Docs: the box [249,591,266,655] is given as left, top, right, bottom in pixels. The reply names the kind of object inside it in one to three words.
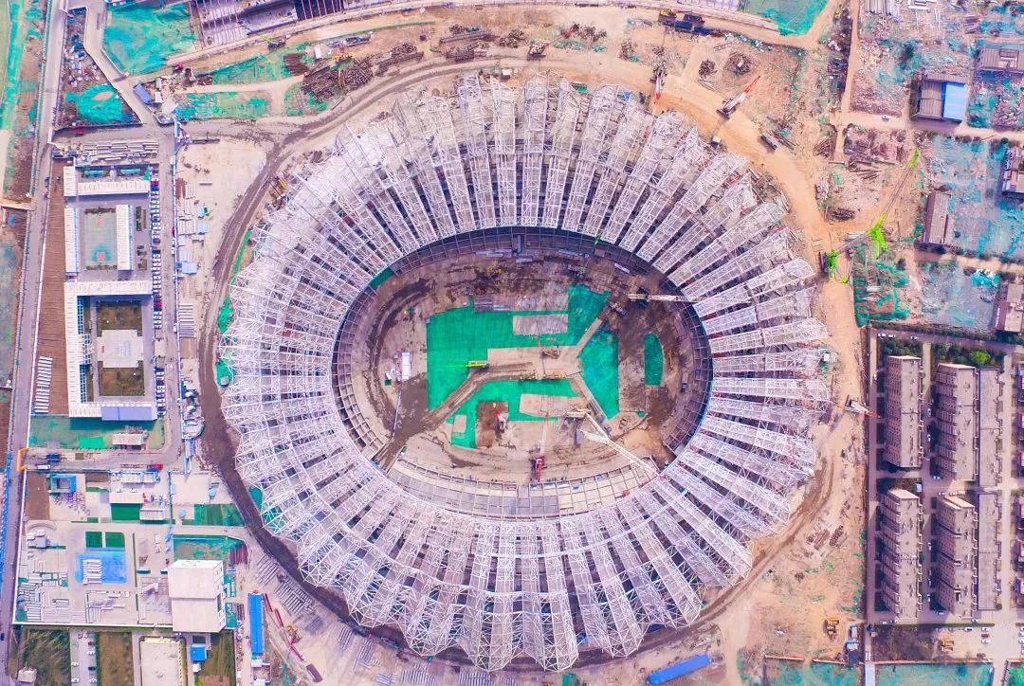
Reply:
building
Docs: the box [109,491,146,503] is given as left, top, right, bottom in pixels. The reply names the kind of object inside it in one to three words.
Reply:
building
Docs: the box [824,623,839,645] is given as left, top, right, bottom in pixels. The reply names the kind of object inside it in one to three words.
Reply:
work vehicle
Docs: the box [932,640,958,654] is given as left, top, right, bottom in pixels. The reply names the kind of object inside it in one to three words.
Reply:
work vehicle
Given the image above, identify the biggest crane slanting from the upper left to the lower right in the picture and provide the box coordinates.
[569,407,663,478]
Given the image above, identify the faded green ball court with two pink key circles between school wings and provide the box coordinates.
[85,213,116,265]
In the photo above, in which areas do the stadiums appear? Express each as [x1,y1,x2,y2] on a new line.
[220,73,826,671]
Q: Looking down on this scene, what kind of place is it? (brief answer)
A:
sports ground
